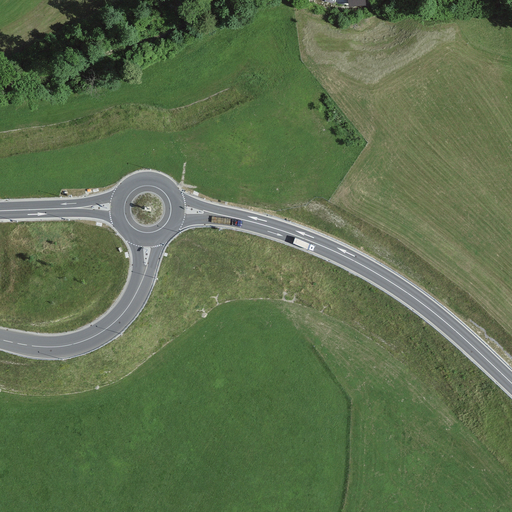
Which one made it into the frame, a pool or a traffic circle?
traffic circle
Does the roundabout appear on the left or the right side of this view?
left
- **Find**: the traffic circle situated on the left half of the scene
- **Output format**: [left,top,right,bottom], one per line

[110,171,186,247]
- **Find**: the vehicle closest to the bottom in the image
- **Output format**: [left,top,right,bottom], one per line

[292,238,316,251]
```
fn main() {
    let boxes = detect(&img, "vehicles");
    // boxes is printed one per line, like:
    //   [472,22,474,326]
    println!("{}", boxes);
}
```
[292,238,316,251]
[210,217,242,227]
